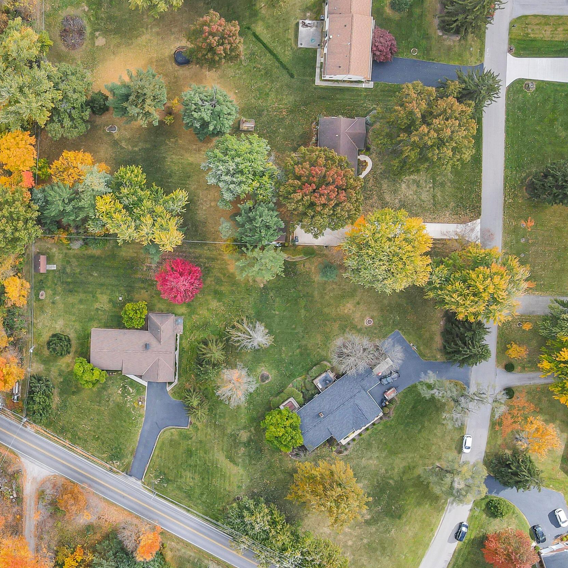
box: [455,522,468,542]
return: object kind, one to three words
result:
vehicle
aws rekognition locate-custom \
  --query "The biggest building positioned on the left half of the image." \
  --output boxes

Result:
[90,313,176,382]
